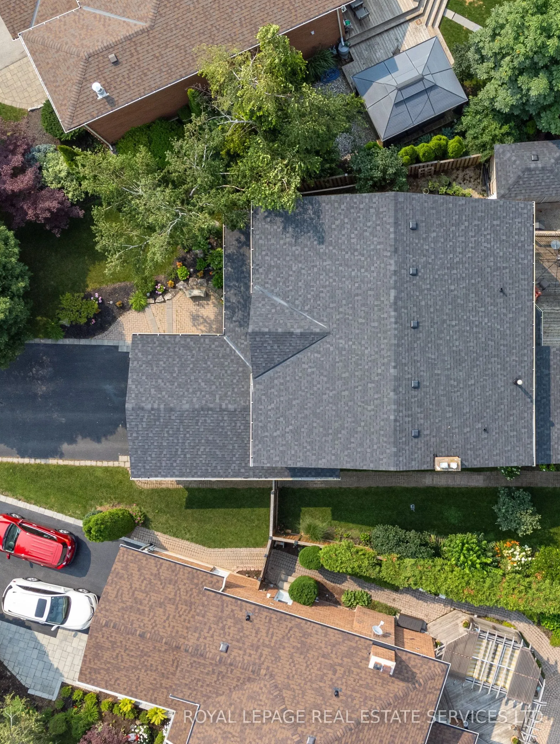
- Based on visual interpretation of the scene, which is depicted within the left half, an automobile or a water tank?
automobile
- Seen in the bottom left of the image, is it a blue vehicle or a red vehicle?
red vehicle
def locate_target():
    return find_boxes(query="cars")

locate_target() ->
[0,512,81,570]
[0,575,98,632]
